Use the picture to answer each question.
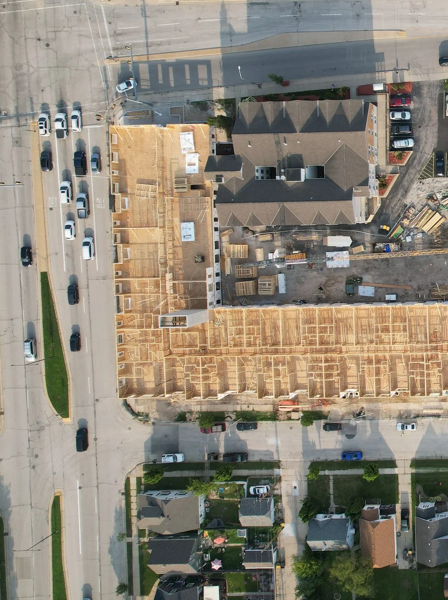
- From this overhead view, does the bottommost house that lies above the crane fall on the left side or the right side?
right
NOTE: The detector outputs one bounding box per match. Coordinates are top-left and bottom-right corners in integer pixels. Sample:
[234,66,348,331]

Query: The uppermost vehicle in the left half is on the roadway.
[116,78,139,94]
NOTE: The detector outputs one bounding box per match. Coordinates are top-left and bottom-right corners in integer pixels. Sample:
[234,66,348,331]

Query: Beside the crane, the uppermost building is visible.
[205,101,382,226]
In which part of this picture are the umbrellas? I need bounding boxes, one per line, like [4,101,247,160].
[211,558,223,570]
[214,535,225,547]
